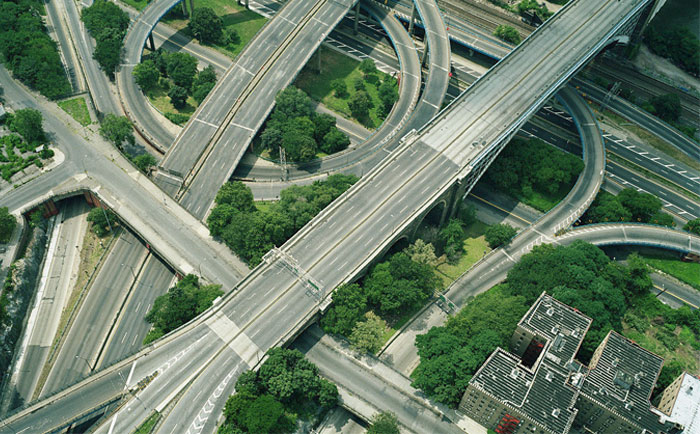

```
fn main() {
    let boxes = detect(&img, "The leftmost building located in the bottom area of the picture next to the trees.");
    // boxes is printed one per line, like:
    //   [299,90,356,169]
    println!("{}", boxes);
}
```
[460,290,594,434]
